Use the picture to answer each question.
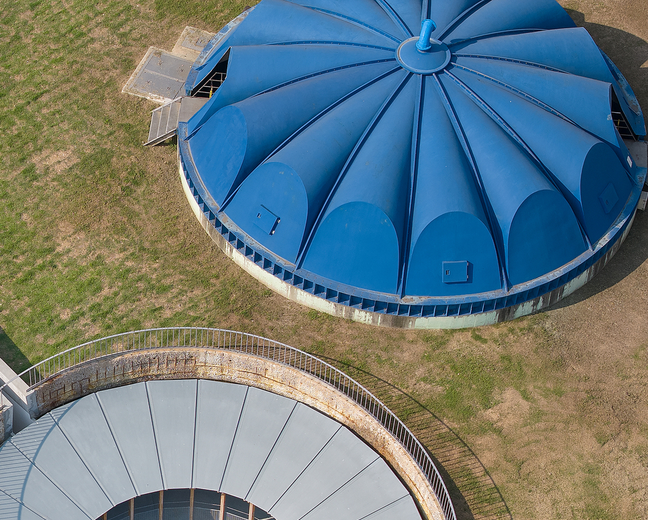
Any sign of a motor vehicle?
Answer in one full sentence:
No, the frame has no motor vehicle in it.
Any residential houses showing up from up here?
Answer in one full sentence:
No, I can see no residential house in this picture.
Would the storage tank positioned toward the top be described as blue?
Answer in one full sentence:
Yes, the storage tank positioned toward the top appears blue.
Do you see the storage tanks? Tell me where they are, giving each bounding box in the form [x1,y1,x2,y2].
[0,342,453,520]
[179,0,647,329]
